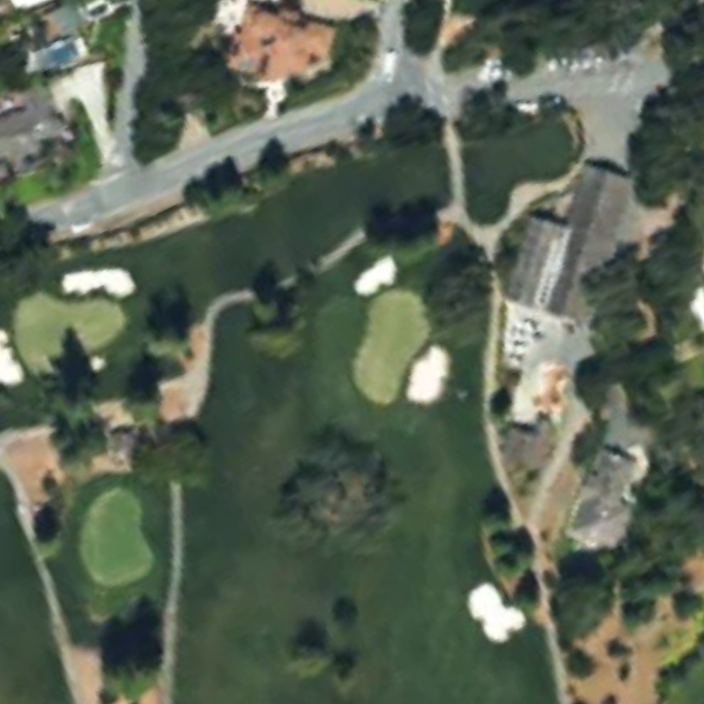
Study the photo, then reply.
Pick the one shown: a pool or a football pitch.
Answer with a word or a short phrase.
pool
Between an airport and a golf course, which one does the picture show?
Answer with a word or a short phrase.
golf course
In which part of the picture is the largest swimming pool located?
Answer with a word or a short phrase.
top left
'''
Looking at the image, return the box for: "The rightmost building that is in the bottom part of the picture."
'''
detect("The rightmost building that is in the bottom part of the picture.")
[574,442,645,550]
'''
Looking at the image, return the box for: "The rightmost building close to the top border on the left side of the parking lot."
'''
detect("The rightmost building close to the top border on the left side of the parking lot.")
[224,0,338,86]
